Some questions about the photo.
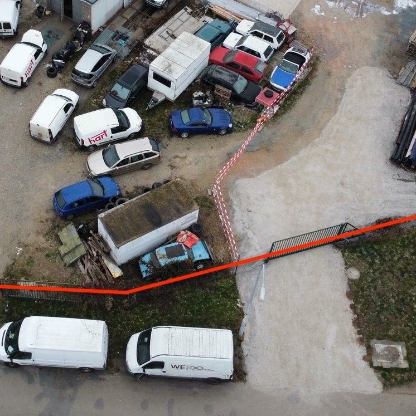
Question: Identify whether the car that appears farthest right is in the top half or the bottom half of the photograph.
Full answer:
It is in the top half that the car that appears farthest right appears.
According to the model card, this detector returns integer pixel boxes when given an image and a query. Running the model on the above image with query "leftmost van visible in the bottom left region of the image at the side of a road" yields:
[0,311,111,375]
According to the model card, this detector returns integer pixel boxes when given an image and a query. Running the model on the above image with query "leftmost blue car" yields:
[53,175,121,219]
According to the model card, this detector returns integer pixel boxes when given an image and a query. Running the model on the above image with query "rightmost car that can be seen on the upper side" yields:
[271,46,311,94]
